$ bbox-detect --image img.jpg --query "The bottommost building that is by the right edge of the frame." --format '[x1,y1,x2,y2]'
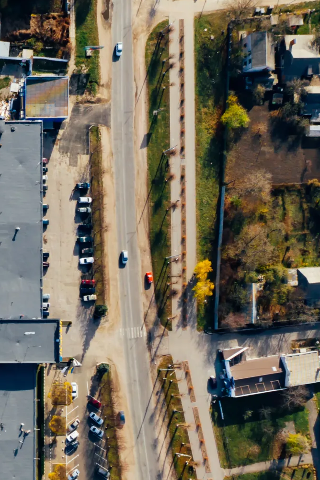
[223,352,320,398]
